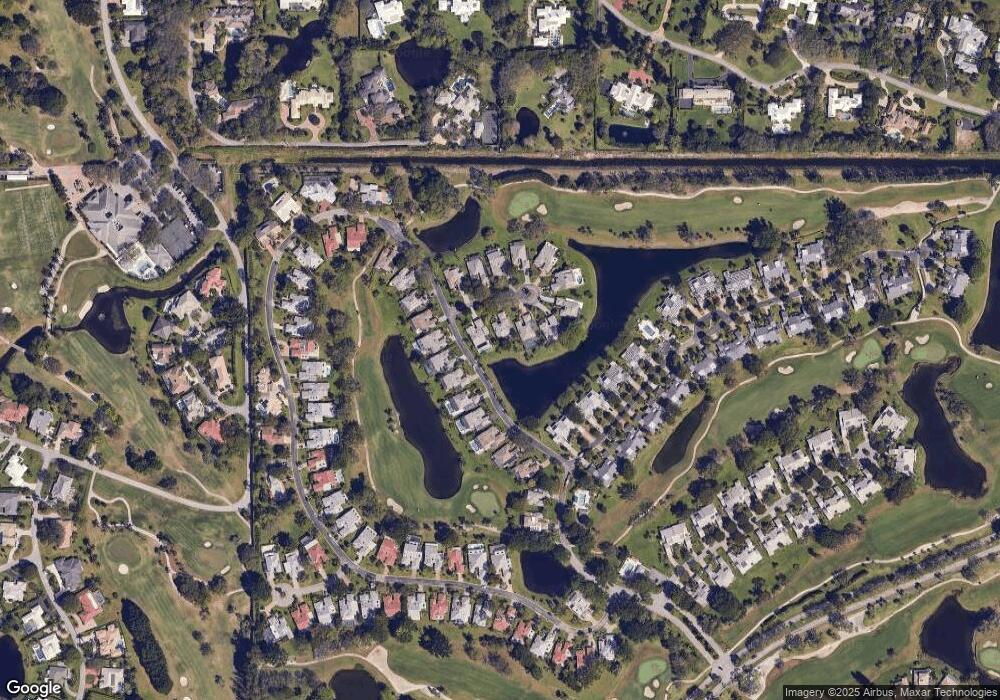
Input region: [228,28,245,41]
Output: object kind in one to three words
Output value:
swimming pool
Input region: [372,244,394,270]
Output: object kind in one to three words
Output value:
house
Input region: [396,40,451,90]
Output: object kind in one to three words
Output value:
pond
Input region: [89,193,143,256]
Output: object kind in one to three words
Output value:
building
